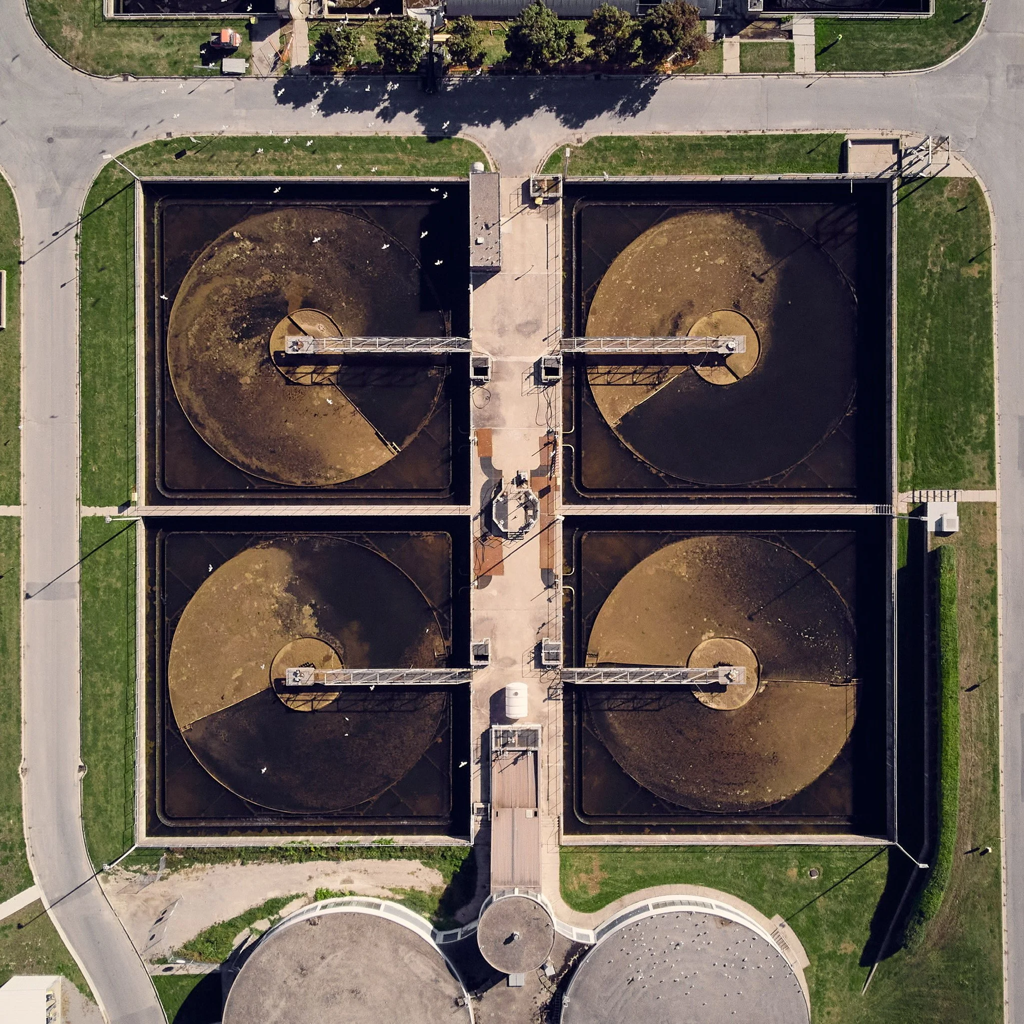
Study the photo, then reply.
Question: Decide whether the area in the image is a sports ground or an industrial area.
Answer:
industrial area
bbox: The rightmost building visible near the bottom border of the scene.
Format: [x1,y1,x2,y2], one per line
[558,896,809,1024]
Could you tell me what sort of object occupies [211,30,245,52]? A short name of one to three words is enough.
vehicle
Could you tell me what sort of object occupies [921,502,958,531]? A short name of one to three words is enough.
building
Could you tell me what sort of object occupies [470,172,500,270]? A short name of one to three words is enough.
shed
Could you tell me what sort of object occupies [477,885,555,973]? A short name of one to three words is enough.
building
